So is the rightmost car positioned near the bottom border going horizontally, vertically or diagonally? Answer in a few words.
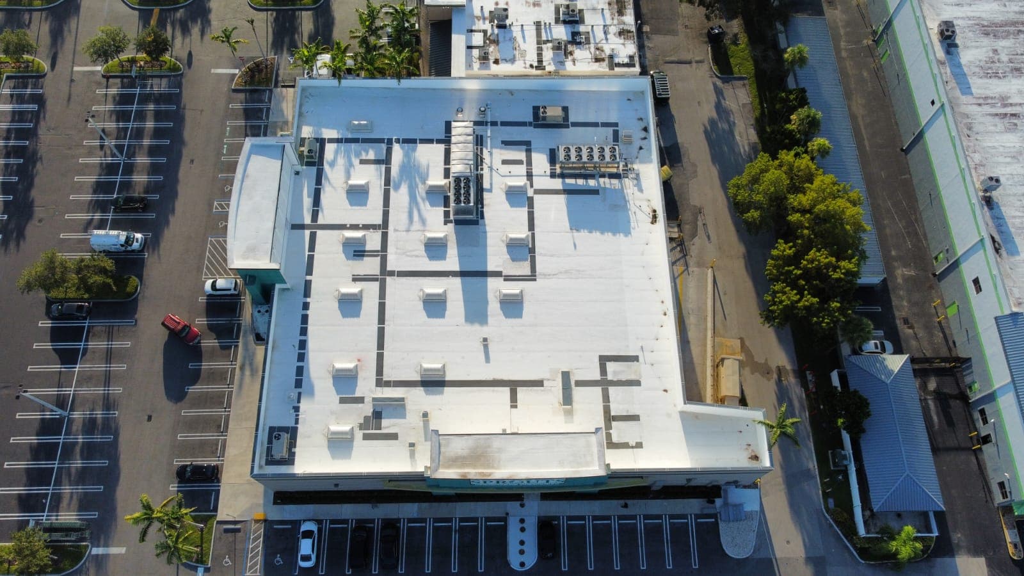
vertically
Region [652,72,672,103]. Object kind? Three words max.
vehicle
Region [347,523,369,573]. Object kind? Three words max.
car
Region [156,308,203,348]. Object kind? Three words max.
truck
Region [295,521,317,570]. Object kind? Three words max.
car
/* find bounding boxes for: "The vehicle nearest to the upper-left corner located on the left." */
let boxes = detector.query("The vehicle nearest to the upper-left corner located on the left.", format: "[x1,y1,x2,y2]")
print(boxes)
[106,191,149,211]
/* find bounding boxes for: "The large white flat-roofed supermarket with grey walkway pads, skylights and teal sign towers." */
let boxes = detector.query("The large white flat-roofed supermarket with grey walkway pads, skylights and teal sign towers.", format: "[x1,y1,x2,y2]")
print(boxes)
[227,78,772,496]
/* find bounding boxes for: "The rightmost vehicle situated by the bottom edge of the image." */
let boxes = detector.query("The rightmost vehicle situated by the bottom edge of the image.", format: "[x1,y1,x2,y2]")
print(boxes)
[537,516,559,566]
